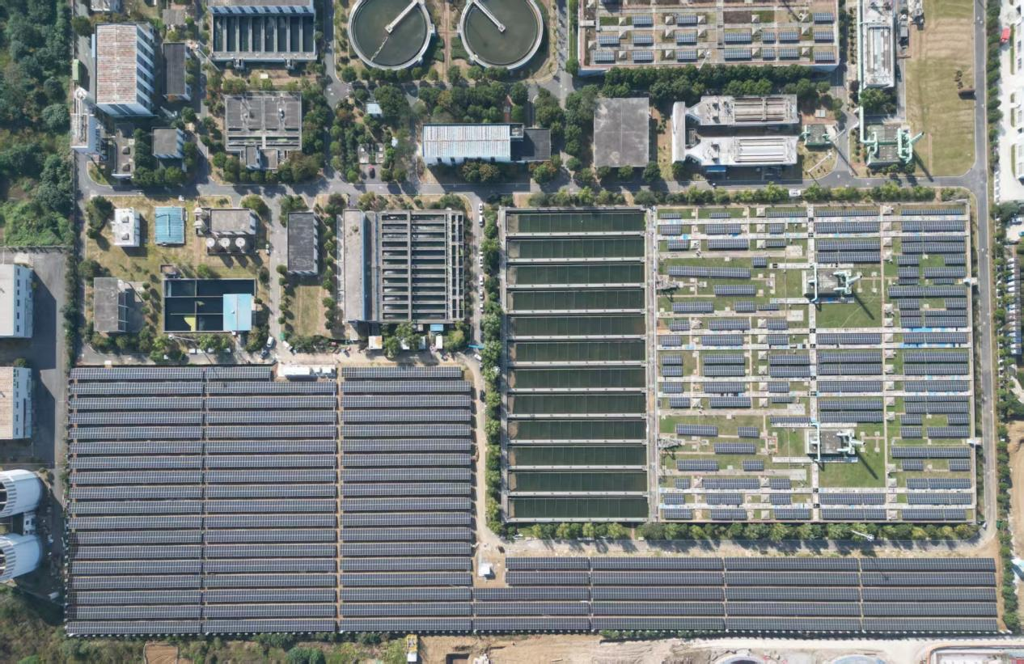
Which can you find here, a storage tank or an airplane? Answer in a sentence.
Visible in the photo is a storage tank.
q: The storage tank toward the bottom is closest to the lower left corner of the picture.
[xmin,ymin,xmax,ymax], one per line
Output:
[0,534,42,588]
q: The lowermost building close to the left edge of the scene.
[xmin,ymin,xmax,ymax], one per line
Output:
[22,512,40,534]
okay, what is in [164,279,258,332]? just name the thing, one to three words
storage tank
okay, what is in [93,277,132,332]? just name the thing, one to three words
shed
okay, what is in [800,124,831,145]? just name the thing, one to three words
building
